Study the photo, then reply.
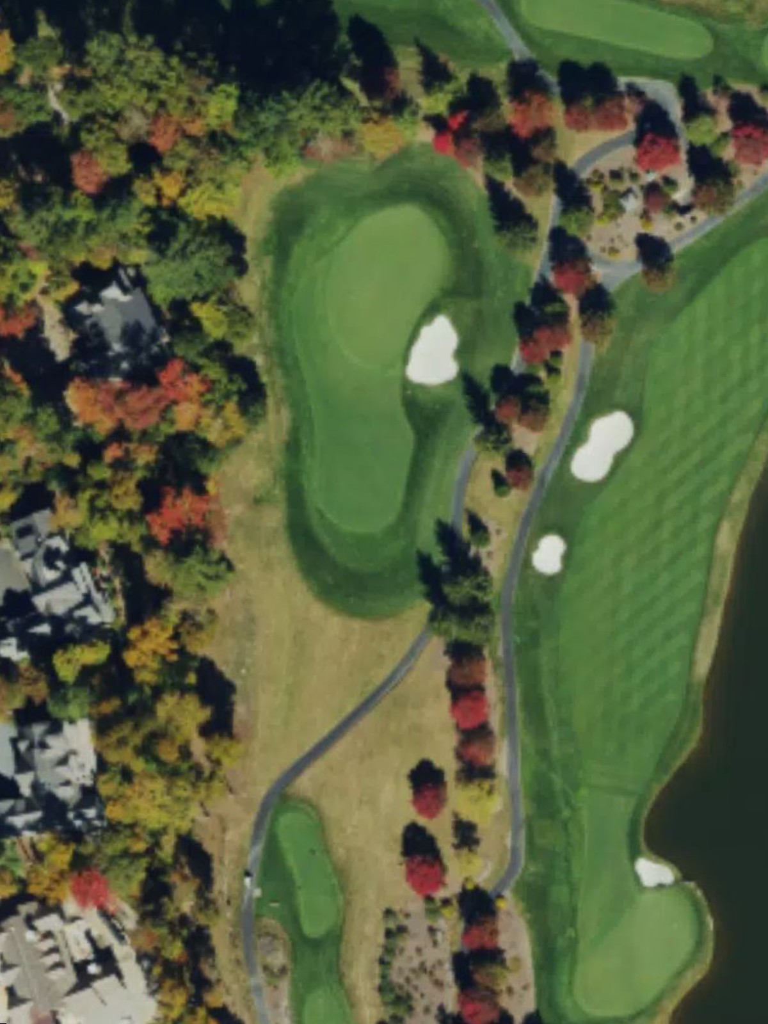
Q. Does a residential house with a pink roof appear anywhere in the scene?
No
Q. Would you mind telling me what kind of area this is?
golf course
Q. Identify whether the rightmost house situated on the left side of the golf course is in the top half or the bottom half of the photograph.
top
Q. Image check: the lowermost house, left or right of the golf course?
left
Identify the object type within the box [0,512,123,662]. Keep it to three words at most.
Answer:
house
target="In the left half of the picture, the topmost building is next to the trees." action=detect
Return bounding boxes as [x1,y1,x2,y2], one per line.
[75,275,177,374]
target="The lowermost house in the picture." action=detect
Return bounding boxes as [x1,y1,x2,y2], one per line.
[0,900,147,1024]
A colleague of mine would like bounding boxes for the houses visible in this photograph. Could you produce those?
[75,275,177,374]
[0,716,107,835]
[0,900,147,1024]
[0,512,123,662]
